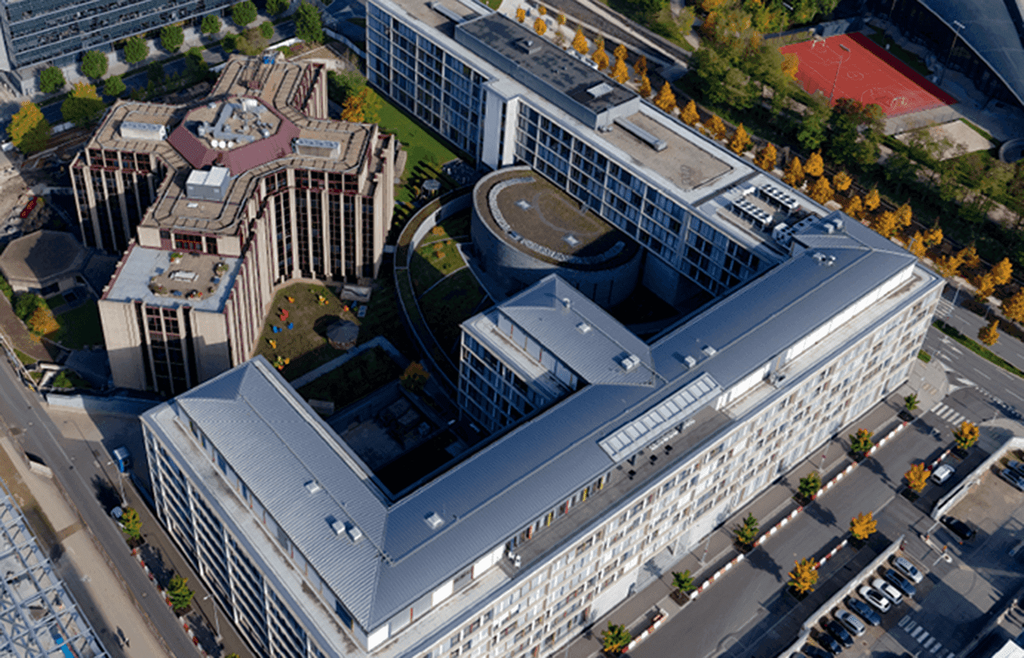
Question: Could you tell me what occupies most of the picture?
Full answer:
For the most part, this view shows buildings.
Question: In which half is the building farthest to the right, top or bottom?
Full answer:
It is in the top half that the building farthest to the right appears.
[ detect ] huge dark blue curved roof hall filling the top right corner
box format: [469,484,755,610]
[929,0,1024,130]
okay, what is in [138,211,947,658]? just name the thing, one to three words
building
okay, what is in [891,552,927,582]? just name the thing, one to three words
car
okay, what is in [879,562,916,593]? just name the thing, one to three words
car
